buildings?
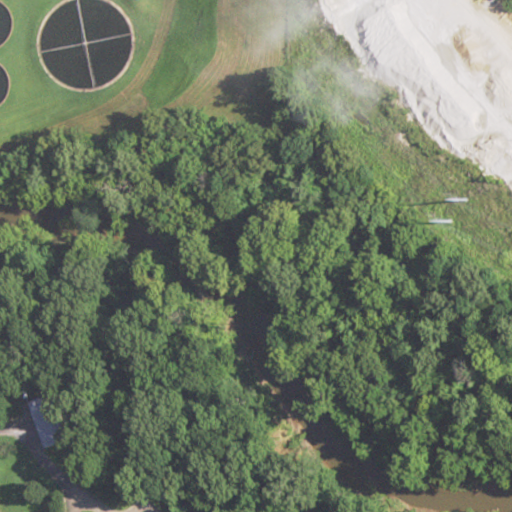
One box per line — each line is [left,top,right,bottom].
[28,398,57,448]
